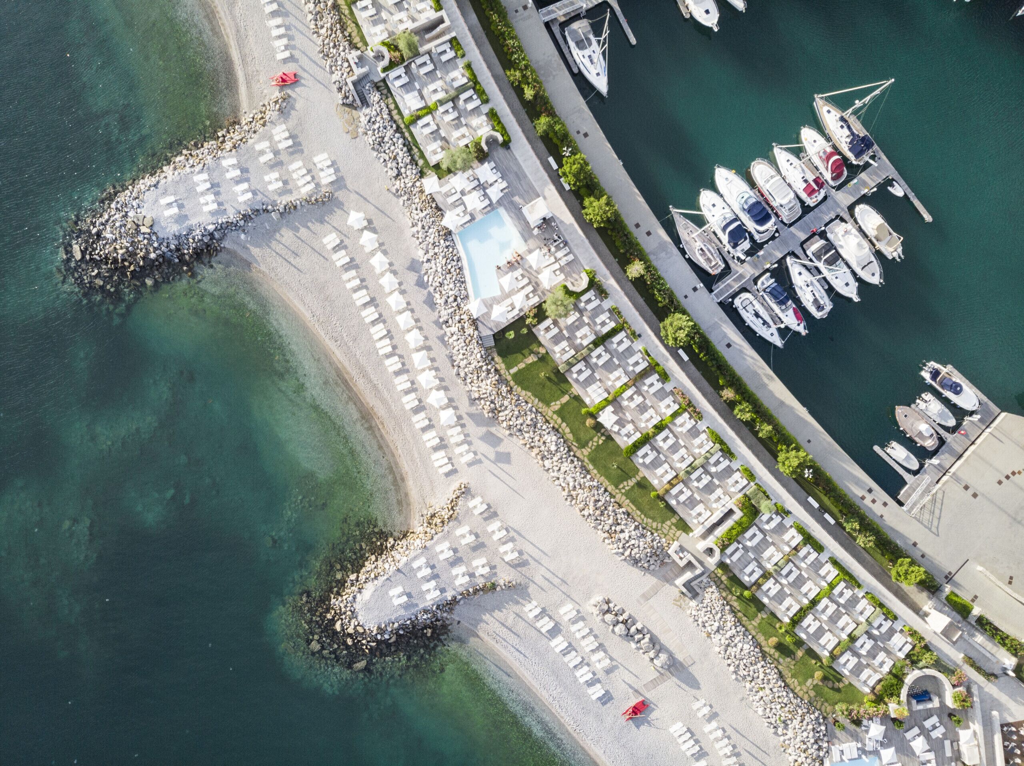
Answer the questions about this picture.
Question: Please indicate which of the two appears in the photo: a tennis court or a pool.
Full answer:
This aerial view contains a pool.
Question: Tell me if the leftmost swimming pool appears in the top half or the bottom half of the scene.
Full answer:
The top half of the photo is where the leftmost swimming pool is.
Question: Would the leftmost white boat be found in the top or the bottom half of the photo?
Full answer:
The leftmost white boat sits in the top half of the picture.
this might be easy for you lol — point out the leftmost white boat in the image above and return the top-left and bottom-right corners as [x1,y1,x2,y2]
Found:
[568,8,614,100]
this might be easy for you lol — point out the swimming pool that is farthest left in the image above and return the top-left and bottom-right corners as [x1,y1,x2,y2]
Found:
[451,206,528,303]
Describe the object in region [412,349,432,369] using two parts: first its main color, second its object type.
white umbrella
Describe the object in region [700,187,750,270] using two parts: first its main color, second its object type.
white boat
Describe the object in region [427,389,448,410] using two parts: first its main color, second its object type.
white umbrella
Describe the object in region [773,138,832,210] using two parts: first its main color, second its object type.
white boat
